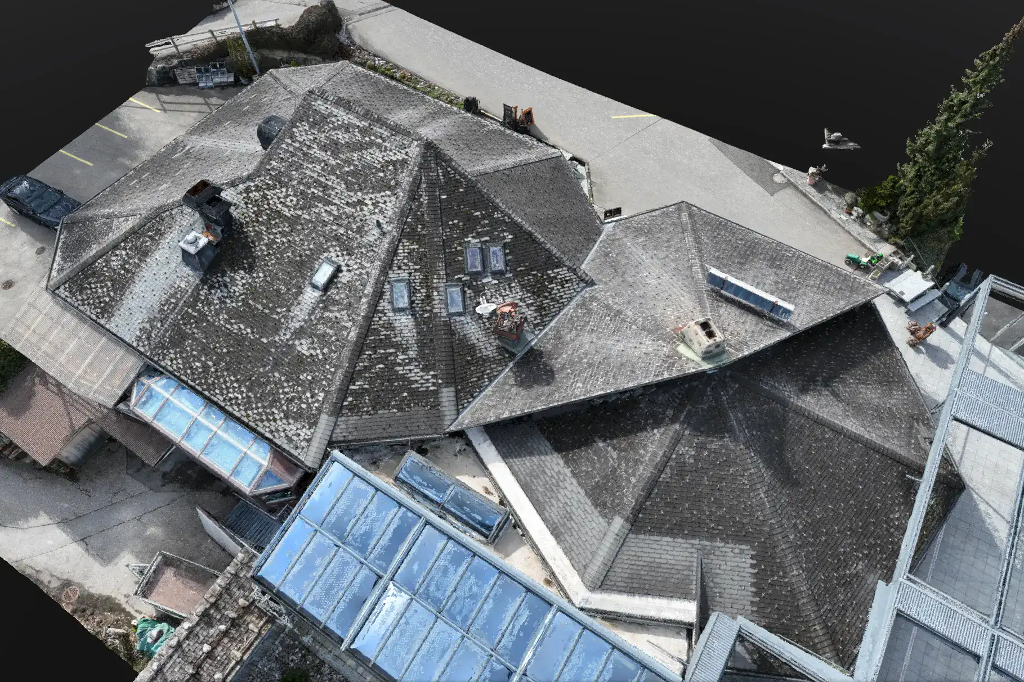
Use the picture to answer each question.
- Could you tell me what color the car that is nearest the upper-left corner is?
black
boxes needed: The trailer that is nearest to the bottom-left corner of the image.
[125,553,220,620]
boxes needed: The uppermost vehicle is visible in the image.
[0,170,79,236]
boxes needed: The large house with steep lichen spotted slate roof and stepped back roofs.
[45,58,604,473]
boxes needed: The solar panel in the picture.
[706,269,795,323]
